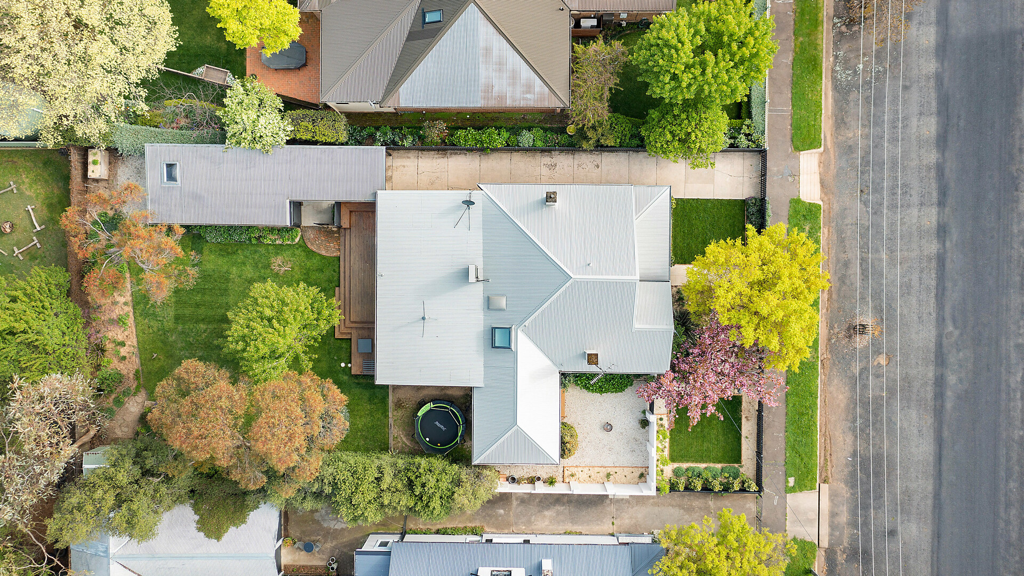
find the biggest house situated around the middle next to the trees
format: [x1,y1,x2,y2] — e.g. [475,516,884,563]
[374,182,674,466]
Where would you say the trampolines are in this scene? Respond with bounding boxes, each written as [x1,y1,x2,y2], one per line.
[416,402,465,452]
